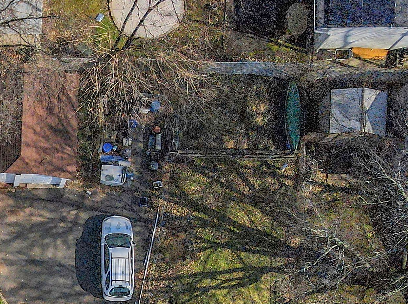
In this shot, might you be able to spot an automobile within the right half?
No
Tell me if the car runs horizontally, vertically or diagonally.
vertically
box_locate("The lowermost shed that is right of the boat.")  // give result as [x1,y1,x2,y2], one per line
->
[330,84,396,142]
